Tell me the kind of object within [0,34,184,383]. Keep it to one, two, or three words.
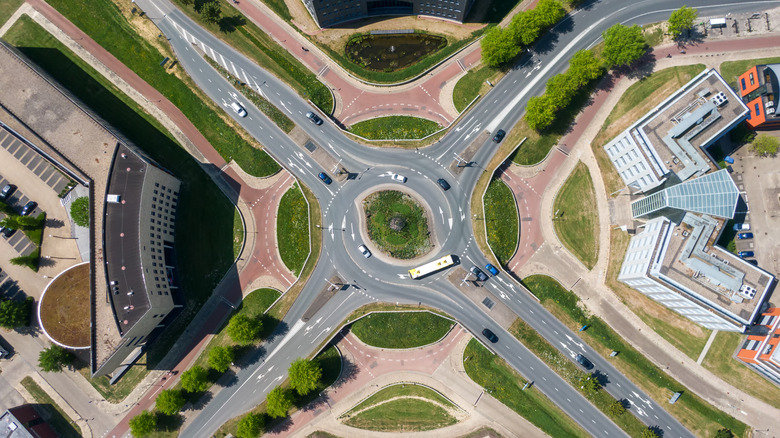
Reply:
building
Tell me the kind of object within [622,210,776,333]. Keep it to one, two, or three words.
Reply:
building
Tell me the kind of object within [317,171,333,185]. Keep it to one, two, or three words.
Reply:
car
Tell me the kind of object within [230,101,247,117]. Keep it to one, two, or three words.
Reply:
car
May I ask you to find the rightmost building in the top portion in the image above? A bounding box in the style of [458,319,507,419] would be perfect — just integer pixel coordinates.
[739,60,780,129]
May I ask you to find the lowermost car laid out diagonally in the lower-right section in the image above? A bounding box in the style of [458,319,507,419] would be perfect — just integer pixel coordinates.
[575,353,595,370]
